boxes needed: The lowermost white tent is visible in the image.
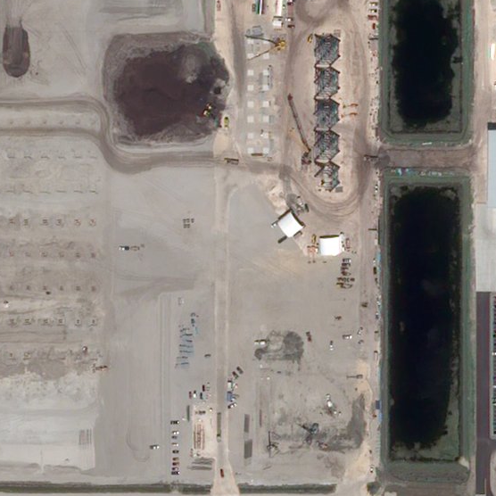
[322,234,344,253]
